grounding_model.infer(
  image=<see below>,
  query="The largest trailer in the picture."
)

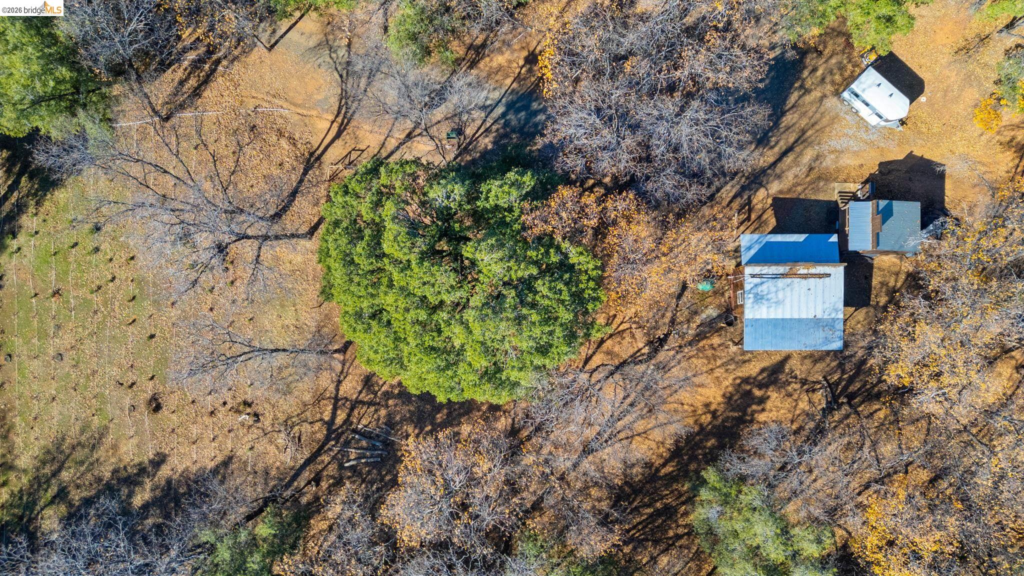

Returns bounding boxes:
[839,66,908,132]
